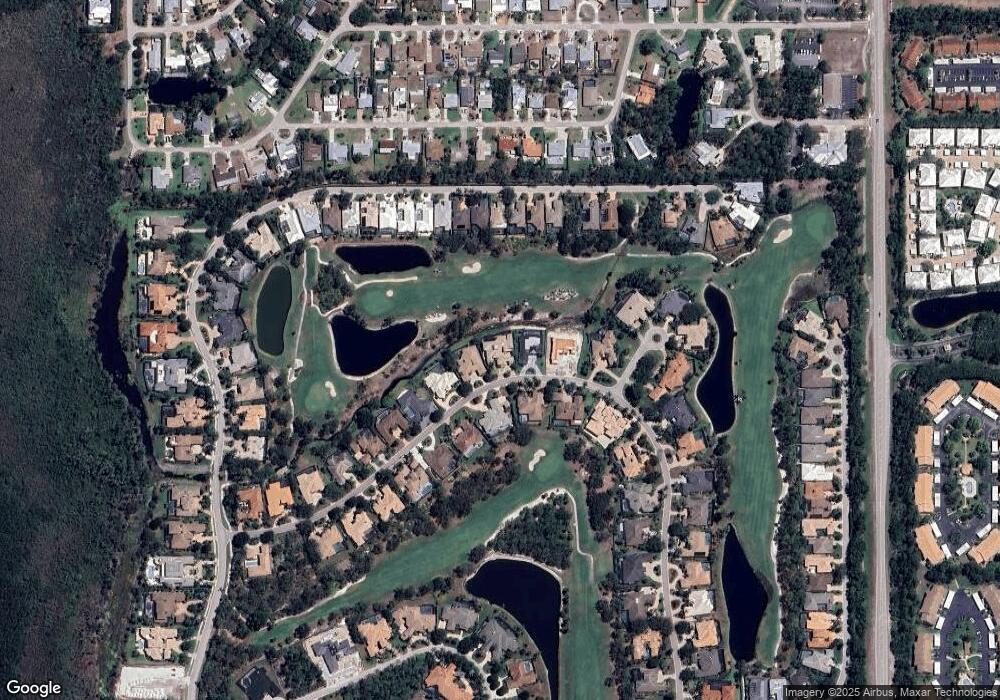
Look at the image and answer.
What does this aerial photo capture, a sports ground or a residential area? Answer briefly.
residential area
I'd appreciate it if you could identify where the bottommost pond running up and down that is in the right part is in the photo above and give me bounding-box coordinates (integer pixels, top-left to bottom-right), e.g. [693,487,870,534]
[722,524,768,661]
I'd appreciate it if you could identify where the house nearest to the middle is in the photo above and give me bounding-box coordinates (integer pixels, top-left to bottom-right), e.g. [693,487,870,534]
[483,332,517,367]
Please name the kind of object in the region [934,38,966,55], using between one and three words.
building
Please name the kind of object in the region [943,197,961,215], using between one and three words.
swimming pool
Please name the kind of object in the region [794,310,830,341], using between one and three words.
house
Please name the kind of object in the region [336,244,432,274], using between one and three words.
pond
